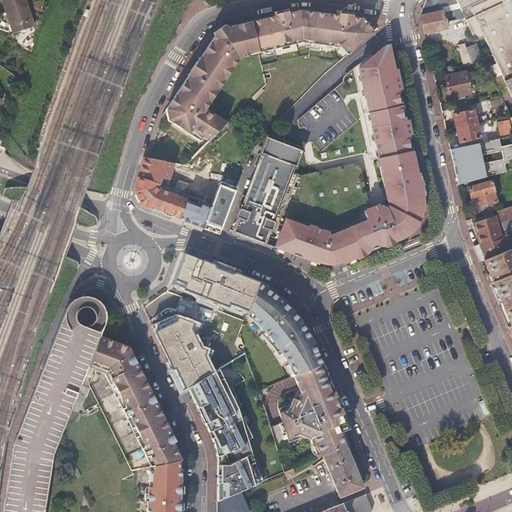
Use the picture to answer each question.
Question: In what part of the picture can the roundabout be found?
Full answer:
Look in the left portion of the view to spot the roundabout.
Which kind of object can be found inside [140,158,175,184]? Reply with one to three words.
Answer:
house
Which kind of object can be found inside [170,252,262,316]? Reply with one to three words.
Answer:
building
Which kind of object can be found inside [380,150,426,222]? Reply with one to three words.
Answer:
building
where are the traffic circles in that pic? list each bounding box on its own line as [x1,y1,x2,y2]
[98,227,164,294]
